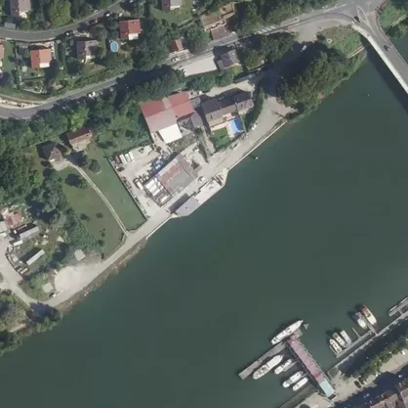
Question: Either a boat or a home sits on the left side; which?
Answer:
home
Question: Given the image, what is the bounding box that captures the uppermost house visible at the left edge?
[7,0,30,17]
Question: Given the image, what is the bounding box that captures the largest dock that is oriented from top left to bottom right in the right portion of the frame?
[284,337,335,395]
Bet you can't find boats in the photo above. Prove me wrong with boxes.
[270,320,304,344]
[356,314,368,329]
[251,355,284,380]
[274,360,292,374]
[334,334,346,347]
[282,372,303,387]
[362,306,377,324]
[342,331,353,344]
[330,339,340,353]
[292,378,307,391]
